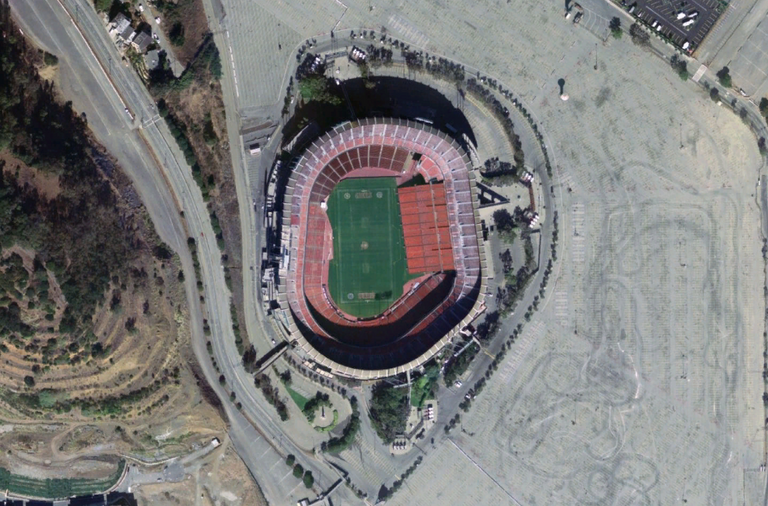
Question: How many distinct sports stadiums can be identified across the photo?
one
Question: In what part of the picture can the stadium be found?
center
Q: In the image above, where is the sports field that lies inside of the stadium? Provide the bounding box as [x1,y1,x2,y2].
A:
[327,177,420,317]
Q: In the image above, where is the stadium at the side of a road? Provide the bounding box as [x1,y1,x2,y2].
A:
[261,80,510,405]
